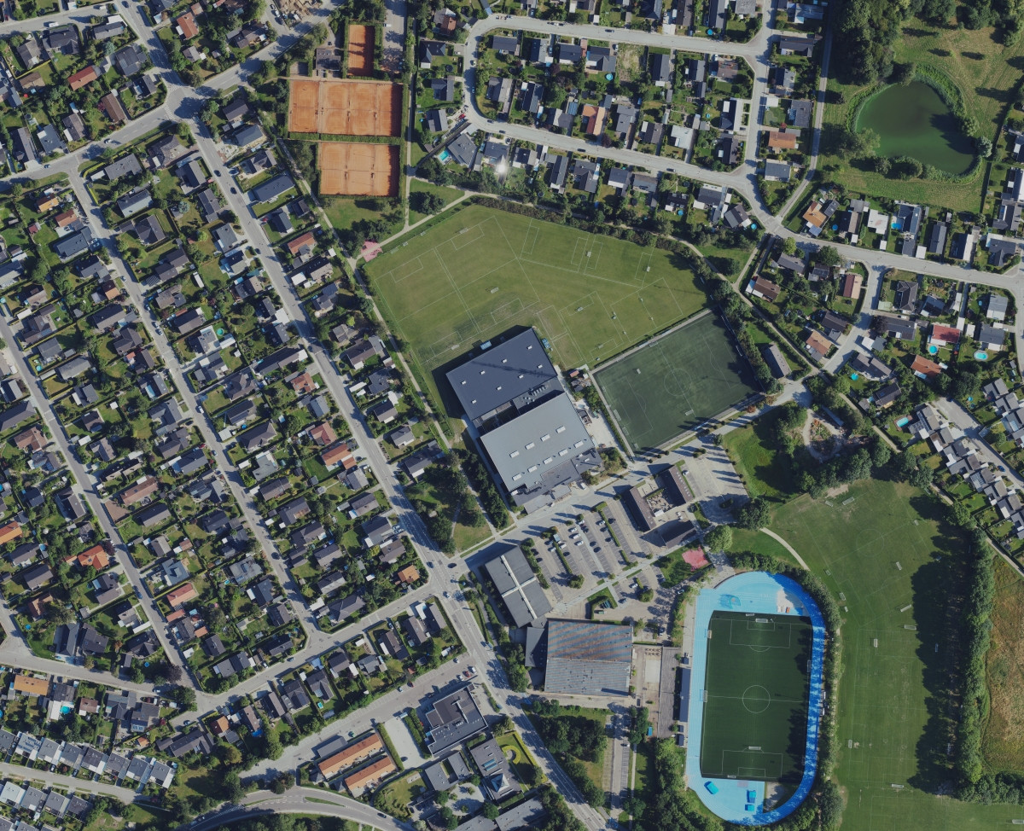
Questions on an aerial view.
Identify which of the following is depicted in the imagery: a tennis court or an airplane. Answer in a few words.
tennis court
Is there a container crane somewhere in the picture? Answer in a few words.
No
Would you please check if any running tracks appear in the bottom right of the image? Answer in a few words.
Yes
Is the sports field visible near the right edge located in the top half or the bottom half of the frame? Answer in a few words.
bottom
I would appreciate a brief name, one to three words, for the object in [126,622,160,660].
house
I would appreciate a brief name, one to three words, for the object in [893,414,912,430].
swimming pool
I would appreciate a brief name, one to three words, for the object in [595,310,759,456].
soccer field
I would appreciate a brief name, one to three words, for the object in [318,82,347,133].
tennis court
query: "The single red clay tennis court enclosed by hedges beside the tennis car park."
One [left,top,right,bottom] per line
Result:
[348,25,373,75]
